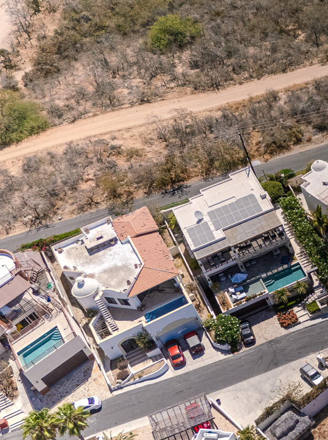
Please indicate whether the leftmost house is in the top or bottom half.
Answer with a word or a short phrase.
bottom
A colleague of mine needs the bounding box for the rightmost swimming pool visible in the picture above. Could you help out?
[259,261,309,295]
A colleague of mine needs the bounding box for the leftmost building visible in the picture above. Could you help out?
[0,249,93,390]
